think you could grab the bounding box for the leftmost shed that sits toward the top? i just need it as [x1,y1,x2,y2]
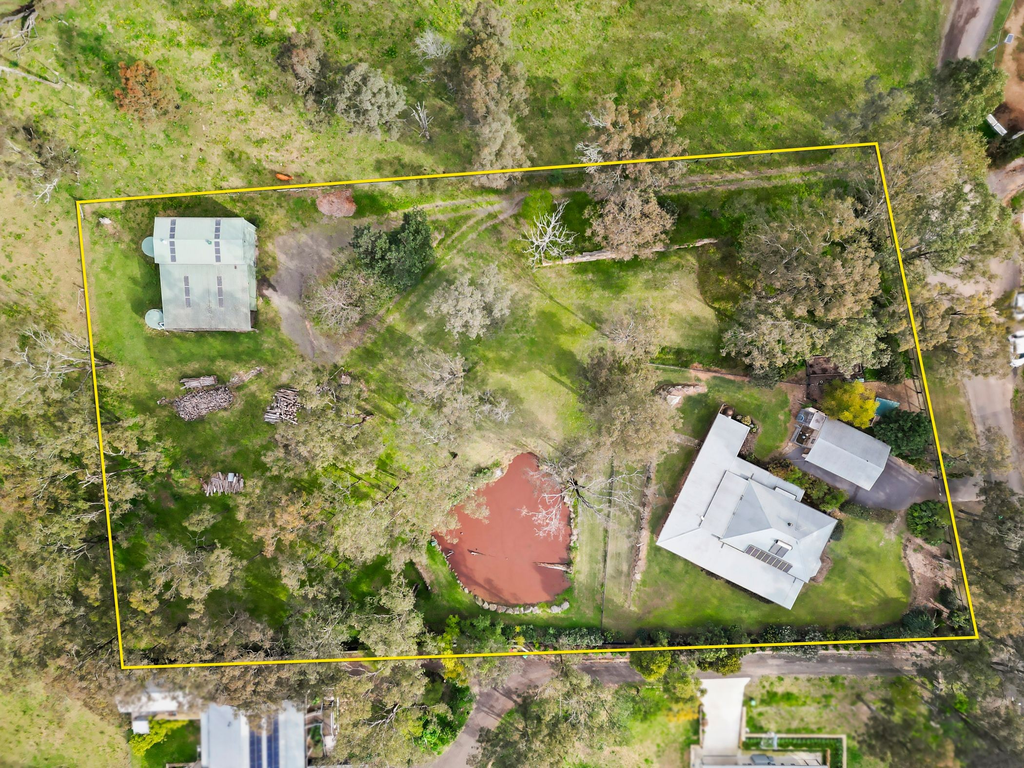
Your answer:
[152,217,258,331]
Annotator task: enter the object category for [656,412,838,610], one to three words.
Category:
house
